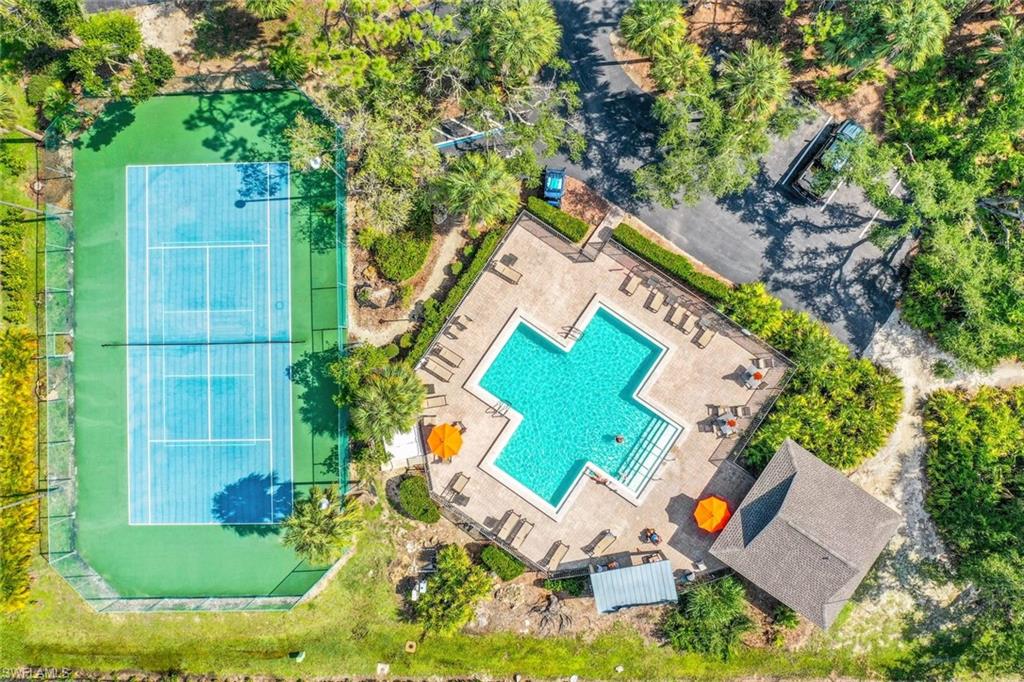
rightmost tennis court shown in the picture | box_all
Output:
[74,94,347,596]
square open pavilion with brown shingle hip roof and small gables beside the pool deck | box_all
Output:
[708,438,903,632]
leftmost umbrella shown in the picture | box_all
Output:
[429,423,463,457]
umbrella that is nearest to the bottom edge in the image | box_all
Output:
[693,495,730,532]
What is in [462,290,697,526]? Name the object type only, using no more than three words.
swimming pool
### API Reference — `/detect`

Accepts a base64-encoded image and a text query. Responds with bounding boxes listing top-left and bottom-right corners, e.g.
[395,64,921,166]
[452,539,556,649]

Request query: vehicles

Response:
[544,167,567,207]
[791,122,861,206]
